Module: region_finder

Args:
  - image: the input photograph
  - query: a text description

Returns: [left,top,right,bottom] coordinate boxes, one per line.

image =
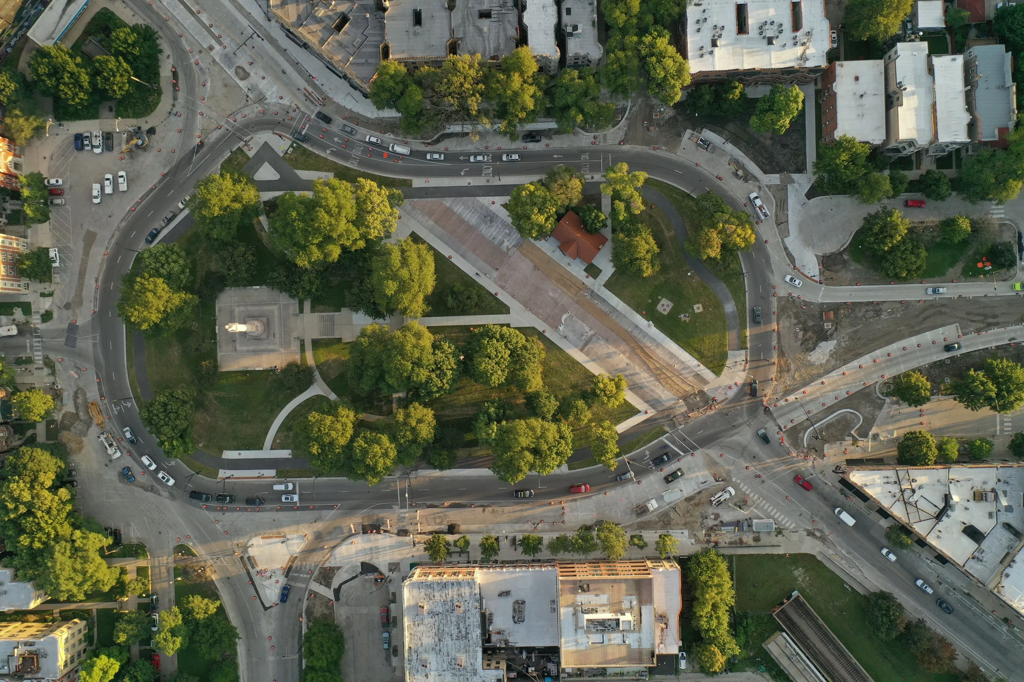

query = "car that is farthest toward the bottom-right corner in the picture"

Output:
[937,599,955,615]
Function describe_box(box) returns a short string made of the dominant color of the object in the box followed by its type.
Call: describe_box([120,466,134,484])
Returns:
blue car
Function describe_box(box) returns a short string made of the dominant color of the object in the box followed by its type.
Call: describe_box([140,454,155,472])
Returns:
white car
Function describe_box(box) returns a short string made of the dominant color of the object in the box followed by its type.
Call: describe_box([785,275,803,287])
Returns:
white vehicle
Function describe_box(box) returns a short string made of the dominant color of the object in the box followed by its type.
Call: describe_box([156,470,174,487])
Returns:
white car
